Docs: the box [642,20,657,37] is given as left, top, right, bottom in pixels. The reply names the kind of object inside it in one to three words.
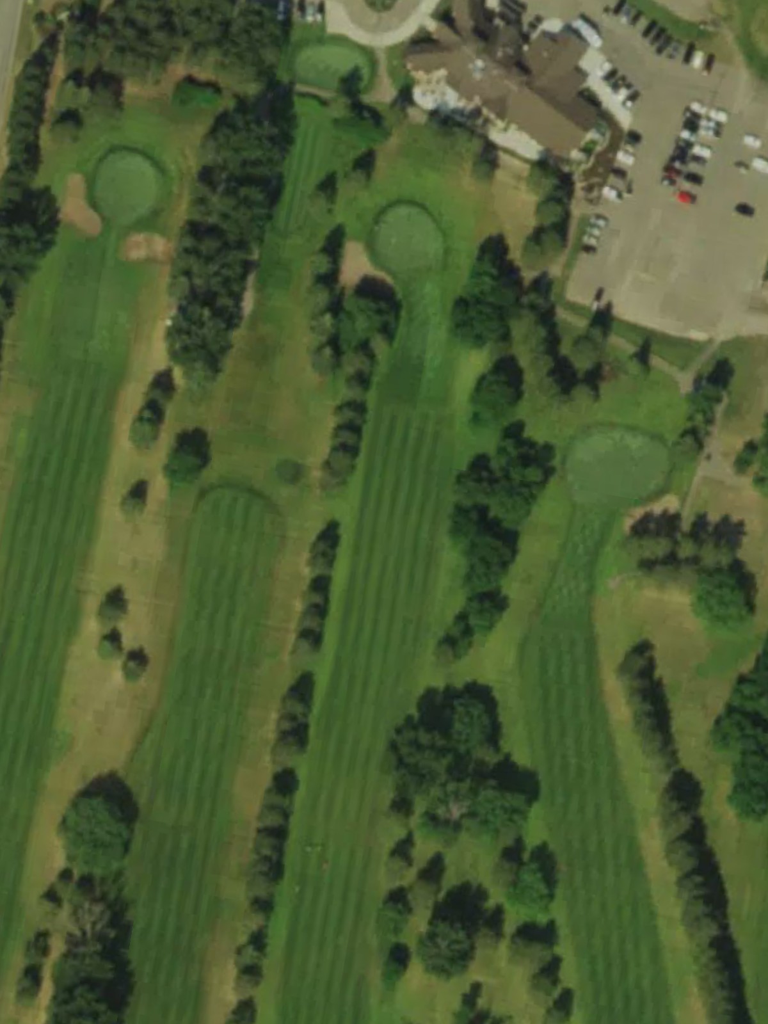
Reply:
car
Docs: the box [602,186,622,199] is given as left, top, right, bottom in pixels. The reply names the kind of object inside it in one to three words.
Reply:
vehicle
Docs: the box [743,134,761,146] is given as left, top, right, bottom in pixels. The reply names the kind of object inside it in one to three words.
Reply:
vehicle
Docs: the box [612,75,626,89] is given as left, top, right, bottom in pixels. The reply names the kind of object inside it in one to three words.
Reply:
car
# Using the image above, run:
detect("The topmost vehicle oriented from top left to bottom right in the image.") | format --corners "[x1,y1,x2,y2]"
[571,18,602,48]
